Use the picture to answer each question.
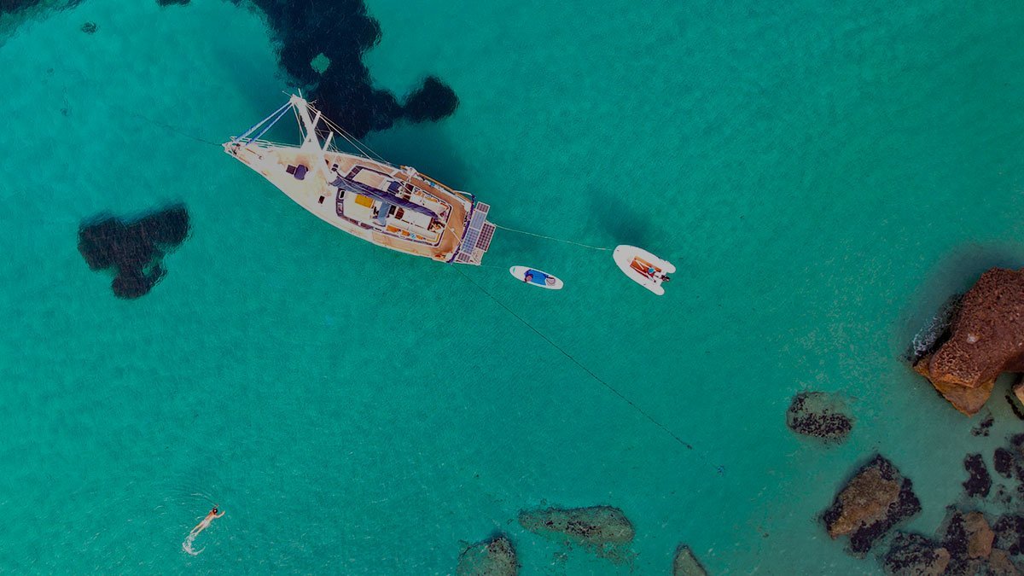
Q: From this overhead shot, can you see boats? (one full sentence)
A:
Yes, the frame does contain a boat.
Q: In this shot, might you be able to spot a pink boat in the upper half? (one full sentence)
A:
No, there is no pink boat in the upper half.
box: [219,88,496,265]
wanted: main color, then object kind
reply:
white boat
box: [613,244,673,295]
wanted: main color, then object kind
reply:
white boat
